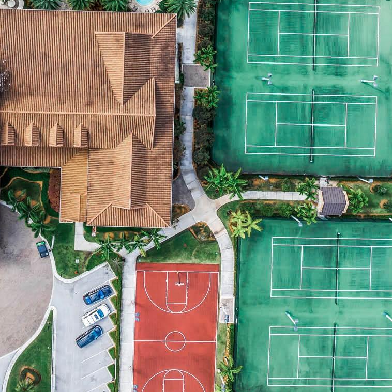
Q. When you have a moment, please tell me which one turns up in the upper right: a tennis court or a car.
tennis court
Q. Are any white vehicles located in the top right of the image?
No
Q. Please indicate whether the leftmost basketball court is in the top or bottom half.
bottom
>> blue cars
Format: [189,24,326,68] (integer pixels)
[74,326,103,350]
[84,285,112,305]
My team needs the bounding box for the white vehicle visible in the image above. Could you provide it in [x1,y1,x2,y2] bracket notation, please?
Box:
[81,305,111,327]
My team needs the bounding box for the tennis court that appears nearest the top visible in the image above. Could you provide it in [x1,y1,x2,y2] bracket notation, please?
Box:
[215,0,392,81]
